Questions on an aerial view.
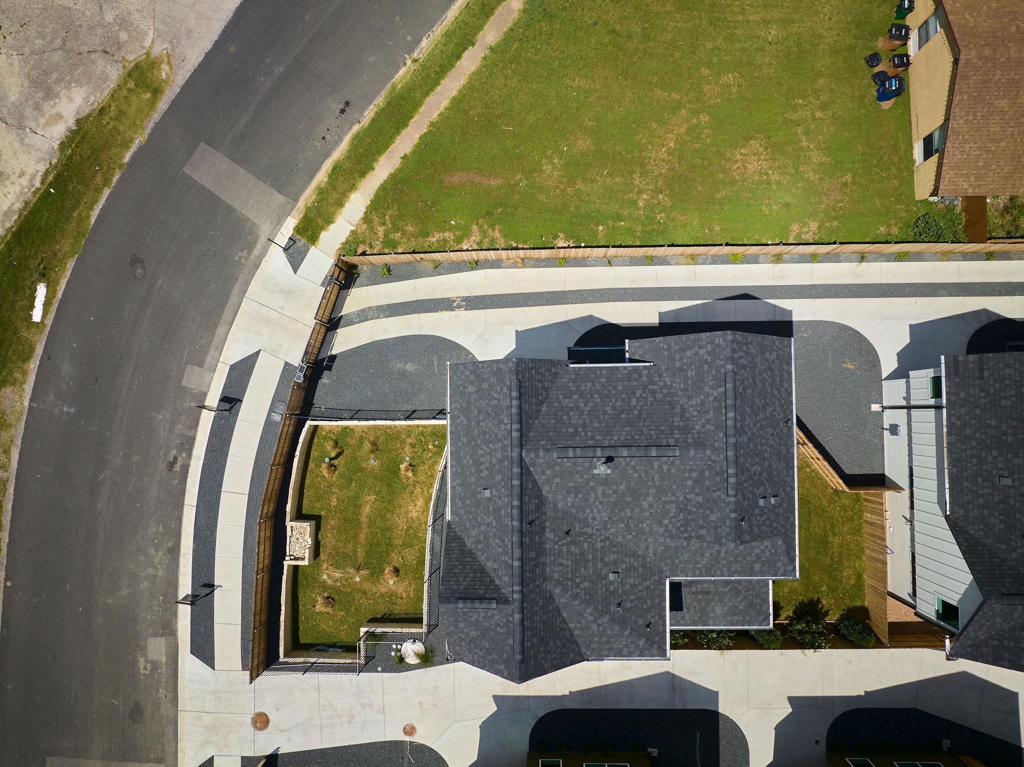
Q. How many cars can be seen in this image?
zero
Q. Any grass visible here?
Yes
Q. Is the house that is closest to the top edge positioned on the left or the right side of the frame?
right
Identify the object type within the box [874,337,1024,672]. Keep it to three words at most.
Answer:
house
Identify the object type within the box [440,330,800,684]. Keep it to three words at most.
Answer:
house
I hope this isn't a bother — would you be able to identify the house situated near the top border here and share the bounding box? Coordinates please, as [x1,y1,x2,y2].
[906,0,1024,200]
